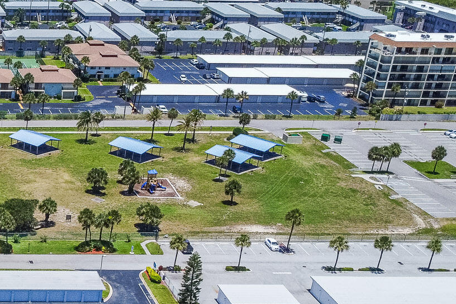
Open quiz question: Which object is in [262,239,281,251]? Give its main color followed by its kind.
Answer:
white vehicle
